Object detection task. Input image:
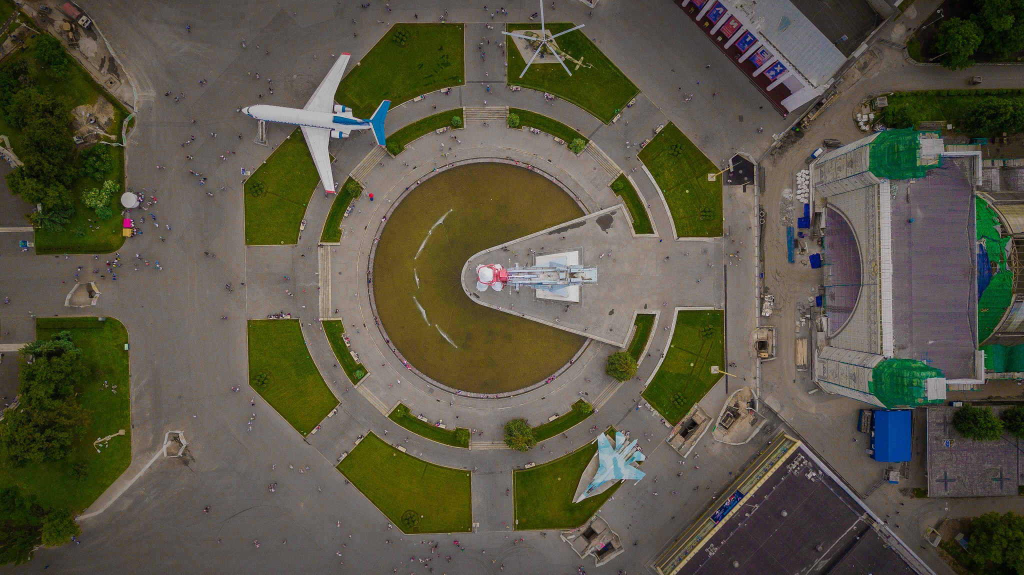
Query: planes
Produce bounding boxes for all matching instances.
[576,432,645,503]
[244,52,390,196]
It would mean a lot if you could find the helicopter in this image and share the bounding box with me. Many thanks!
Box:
[502,0,597,77]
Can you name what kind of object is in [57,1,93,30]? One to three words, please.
truck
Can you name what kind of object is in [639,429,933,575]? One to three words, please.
building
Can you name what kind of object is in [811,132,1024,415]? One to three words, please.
building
